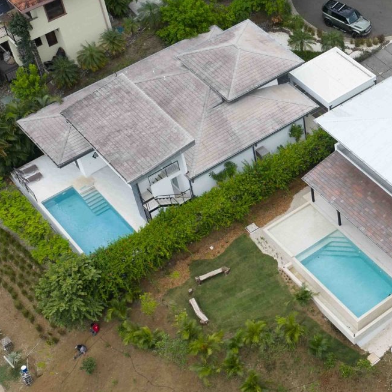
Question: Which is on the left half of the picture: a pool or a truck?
pool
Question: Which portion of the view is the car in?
top right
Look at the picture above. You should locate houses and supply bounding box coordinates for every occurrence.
[8,18,321,275]
[262,78,392,347]
[0,0,110,61]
